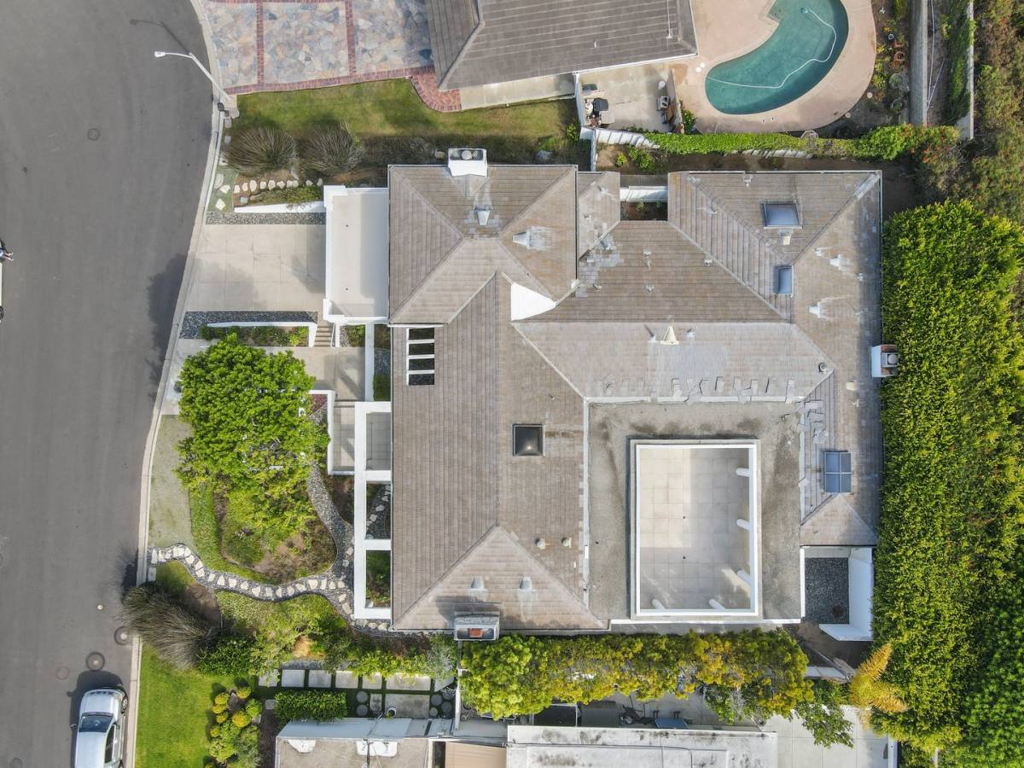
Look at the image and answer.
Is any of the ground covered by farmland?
No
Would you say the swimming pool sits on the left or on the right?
right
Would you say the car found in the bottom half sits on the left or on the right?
left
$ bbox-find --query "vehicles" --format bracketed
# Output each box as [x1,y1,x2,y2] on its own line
[0,244,8,328]
[82,690,134,768]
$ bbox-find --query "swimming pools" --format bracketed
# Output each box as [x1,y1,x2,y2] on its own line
[699,0,856,121]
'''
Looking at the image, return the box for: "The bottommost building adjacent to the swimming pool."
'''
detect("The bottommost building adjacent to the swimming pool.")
[386,148,900,639]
